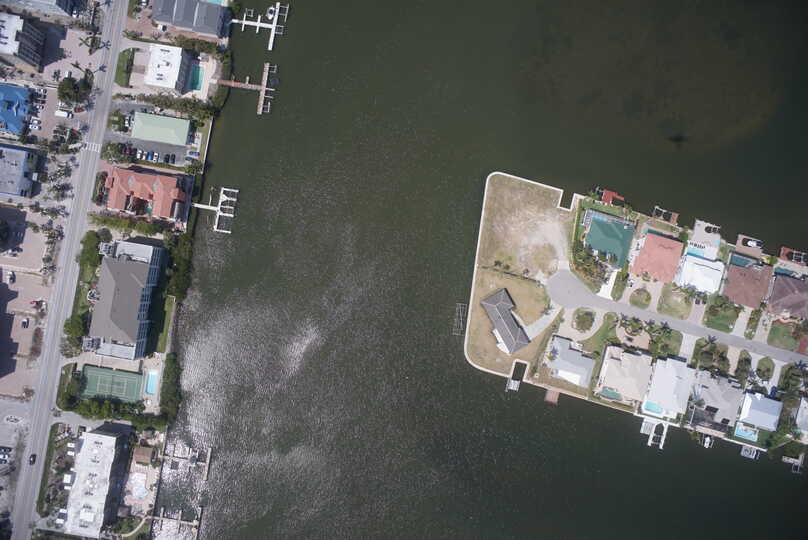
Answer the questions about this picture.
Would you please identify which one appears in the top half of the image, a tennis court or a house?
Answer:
house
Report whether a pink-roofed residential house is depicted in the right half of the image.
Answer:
Yes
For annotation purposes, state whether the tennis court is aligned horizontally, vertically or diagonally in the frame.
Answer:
horizontally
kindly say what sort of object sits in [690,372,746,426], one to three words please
house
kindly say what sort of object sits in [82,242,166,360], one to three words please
building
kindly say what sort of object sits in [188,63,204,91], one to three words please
swimming pool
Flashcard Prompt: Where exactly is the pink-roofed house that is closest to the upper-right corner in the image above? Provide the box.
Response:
[628,234,684,283]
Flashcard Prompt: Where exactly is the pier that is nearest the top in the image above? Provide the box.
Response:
[230,1,281,51]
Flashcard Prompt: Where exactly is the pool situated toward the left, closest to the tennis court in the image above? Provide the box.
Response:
[144,373,159,396]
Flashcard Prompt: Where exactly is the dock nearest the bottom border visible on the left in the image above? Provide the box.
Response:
[148,506,204,540]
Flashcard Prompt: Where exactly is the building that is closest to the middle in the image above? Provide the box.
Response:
[481,288,529,354]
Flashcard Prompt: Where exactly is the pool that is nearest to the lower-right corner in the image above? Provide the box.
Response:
[734,423,760,442]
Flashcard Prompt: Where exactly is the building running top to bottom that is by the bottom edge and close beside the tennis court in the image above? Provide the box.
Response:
[65,426,131,538]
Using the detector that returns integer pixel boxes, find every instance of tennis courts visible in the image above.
[78,365,143,403]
